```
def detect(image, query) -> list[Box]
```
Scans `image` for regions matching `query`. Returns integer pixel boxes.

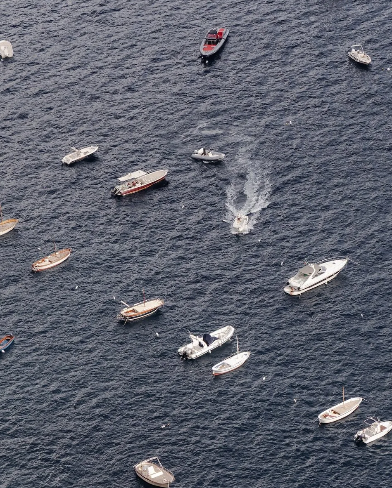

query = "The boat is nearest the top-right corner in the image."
[347,43,371,64]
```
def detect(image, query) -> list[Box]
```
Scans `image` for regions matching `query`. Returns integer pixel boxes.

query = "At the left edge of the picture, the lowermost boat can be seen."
[0,334,16,352]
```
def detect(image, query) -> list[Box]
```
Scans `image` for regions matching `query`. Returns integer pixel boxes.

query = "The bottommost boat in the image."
[135,455,172,488]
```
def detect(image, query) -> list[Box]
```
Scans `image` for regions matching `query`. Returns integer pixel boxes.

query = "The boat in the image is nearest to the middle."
[233,213,248,231]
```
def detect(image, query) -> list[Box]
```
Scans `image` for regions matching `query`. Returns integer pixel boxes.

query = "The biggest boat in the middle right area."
[281,254,358,299]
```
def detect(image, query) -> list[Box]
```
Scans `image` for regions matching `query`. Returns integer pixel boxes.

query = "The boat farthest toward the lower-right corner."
[355,413,392,444]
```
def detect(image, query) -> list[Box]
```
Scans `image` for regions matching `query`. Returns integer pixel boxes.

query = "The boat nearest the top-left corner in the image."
[0,40,13,56]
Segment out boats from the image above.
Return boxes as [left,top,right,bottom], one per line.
[212,343,254,377]
[202,26,230,59]
[347,43,371,64]
[281,254,358,299]
[314,385,369,425]
[233,213,248,231]
[60,146,101,166]
[112,168,167,196]
[135,455,172,488]
[120,288,165,327]
[175,326,239,361]
[0,203,22,236]
[355,413,392,444]
[0,40,13,56]
[188,149,225,159]
[0,334,16,352]
[30,238,72,273]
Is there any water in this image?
Yes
